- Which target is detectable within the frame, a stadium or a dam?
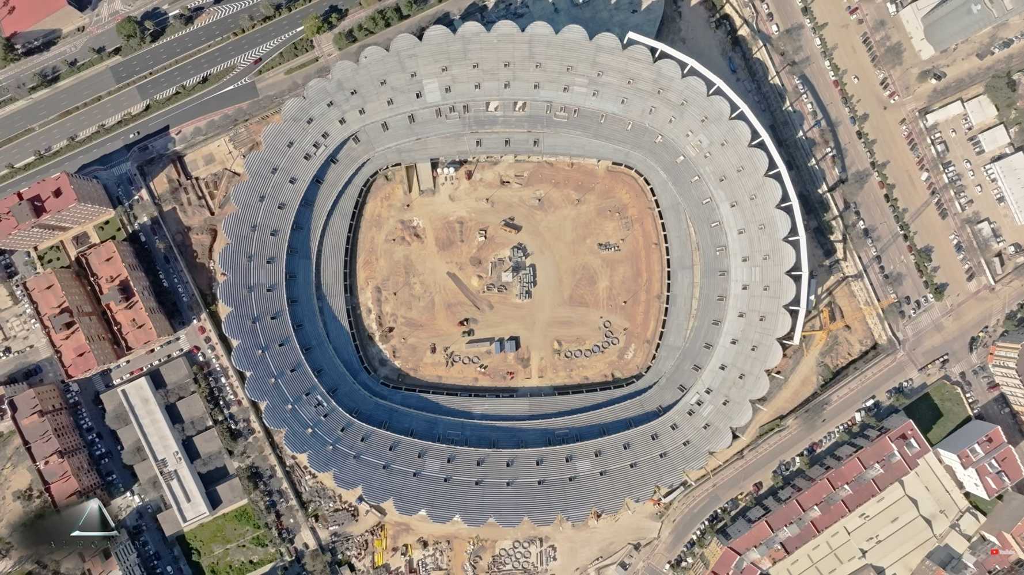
stadium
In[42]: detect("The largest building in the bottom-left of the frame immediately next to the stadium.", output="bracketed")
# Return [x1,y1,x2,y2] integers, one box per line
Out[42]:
[100,356,253,536]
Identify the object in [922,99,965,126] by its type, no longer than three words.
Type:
shed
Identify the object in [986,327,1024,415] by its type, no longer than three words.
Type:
building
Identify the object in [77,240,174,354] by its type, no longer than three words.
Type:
building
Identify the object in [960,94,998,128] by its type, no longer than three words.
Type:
shed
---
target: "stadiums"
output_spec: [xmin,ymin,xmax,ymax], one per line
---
[216,17,809,532]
